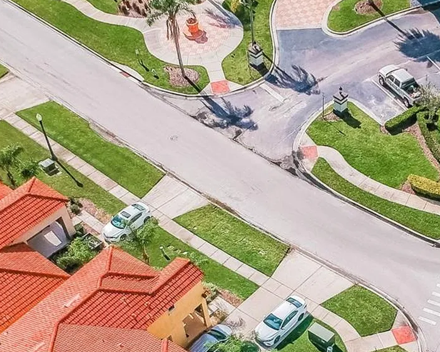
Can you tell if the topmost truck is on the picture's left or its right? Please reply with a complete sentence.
The topmost truck is on the right side of the image.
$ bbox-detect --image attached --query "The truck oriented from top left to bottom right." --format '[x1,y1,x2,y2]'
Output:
[377,60,425,103]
